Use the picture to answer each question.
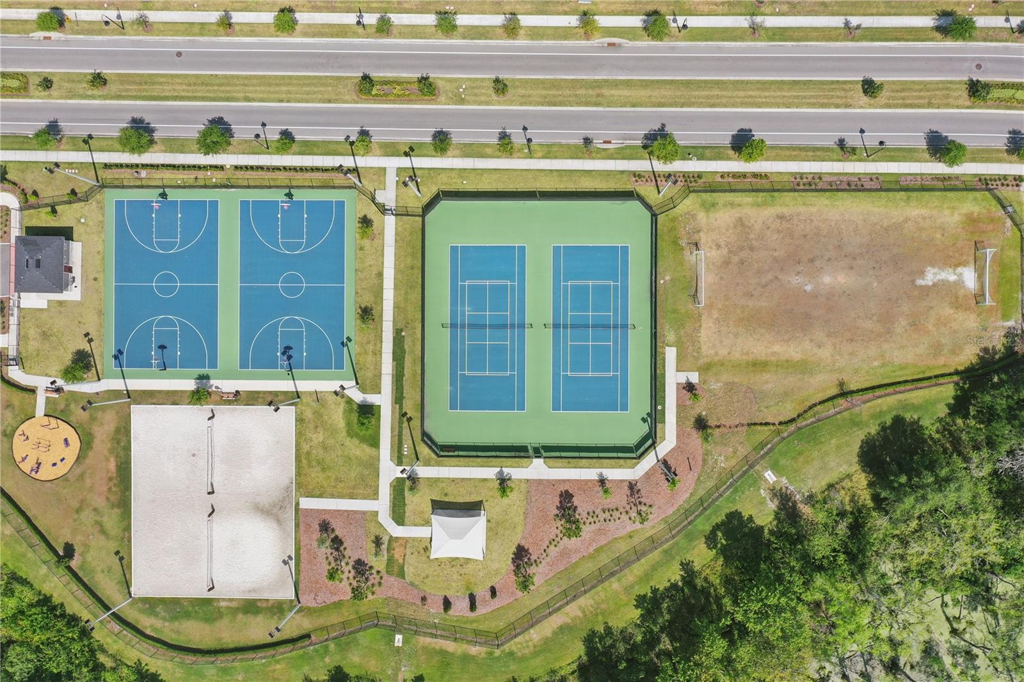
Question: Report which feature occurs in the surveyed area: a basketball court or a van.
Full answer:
I can see a basketball court in this picture.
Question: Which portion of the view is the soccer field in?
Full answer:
The soccer field is in the right part of the image.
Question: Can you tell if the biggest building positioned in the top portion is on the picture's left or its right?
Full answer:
The biggest building positioned in the top portion appears in the left half of the scene.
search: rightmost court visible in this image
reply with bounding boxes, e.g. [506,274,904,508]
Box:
[539,201,652,455]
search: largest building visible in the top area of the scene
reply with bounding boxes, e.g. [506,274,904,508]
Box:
[15,236,71,293]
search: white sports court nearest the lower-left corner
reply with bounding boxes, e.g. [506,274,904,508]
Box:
[130,405,295,600]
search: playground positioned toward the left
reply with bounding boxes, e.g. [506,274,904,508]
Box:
[12,415,81,482]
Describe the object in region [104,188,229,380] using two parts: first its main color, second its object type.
blue basketball court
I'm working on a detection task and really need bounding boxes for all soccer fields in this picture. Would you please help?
[686,207,1009,374]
